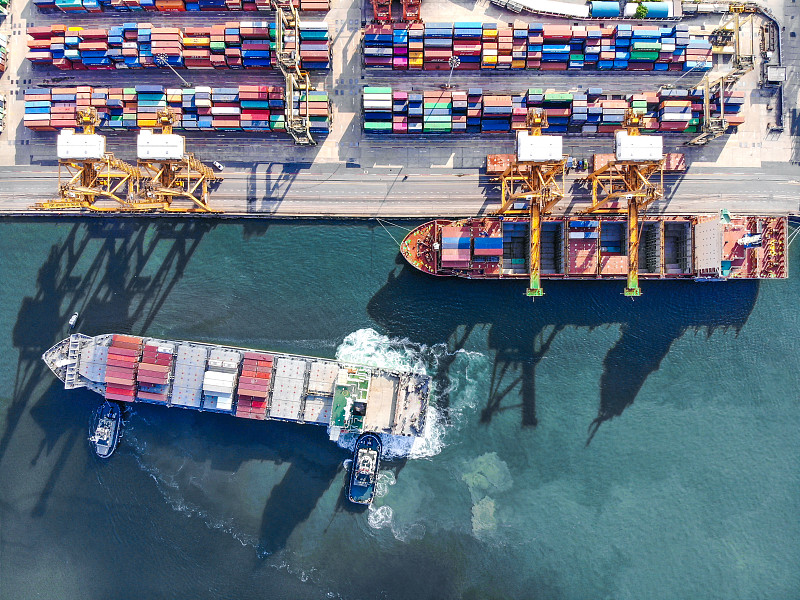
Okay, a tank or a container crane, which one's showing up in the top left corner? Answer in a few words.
container crane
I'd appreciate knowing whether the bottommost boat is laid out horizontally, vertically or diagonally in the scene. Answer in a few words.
vertically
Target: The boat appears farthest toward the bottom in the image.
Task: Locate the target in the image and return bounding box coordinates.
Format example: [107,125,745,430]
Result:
[347,433,383,505]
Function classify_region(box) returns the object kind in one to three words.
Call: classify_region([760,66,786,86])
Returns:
building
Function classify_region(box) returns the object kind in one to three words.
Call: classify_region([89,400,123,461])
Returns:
boat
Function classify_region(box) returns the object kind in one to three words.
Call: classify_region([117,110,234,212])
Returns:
container crane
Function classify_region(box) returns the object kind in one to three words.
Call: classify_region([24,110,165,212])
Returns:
container crane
